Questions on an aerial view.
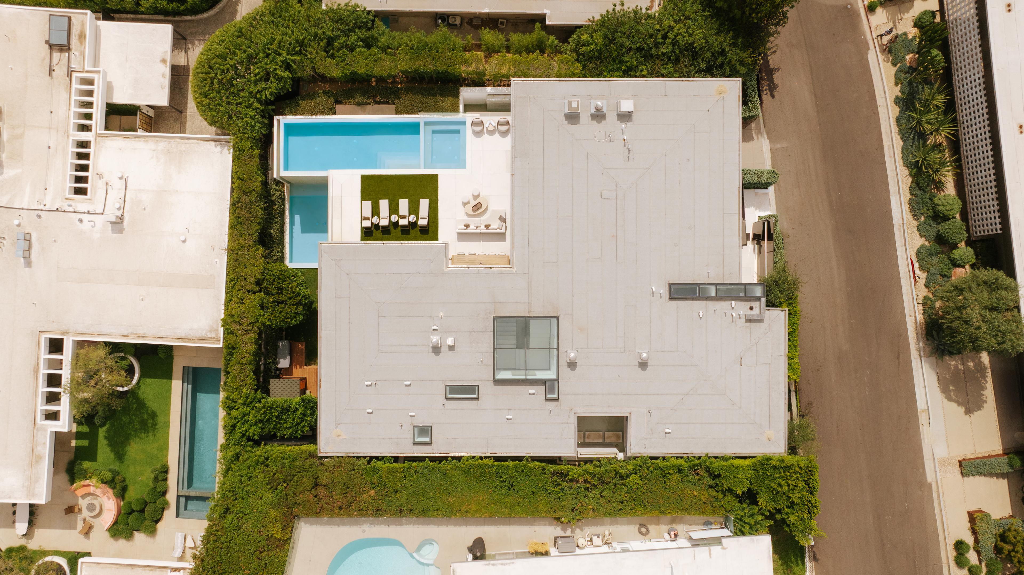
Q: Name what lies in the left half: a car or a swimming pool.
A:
swimming pool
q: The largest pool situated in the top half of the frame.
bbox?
[274,116,479,190]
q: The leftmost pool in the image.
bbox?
[176,366,243,525]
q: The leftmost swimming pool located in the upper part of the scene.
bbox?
[270,174,329,268]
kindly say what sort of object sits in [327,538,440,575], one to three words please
swimming pool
